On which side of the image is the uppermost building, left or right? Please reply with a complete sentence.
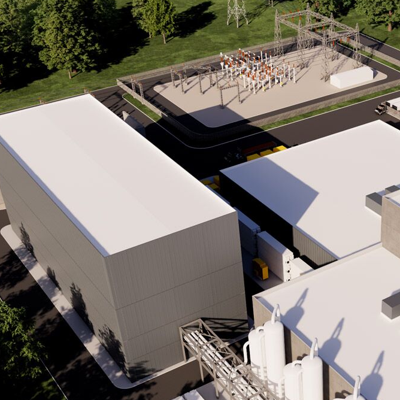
It is on the right.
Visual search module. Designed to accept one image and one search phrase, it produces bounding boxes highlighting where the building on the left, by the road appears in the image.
[0,94,248,382]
